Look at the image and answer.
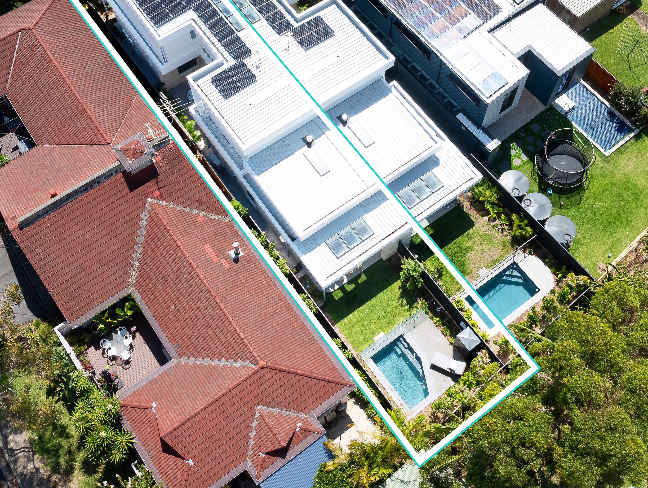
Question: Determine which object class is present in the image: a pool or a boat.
pool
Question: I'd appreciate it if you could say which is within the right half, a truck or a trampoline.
trampoline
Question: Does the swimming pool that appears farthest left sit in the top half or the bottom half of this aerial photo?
bottom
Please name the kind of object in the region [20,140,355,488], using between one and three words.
house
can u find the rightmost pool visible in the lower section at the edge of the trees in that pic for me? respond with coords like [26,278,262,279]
[457,255,547,335]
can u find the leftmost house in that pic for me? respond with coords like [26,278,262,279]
[0,0,172,231]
